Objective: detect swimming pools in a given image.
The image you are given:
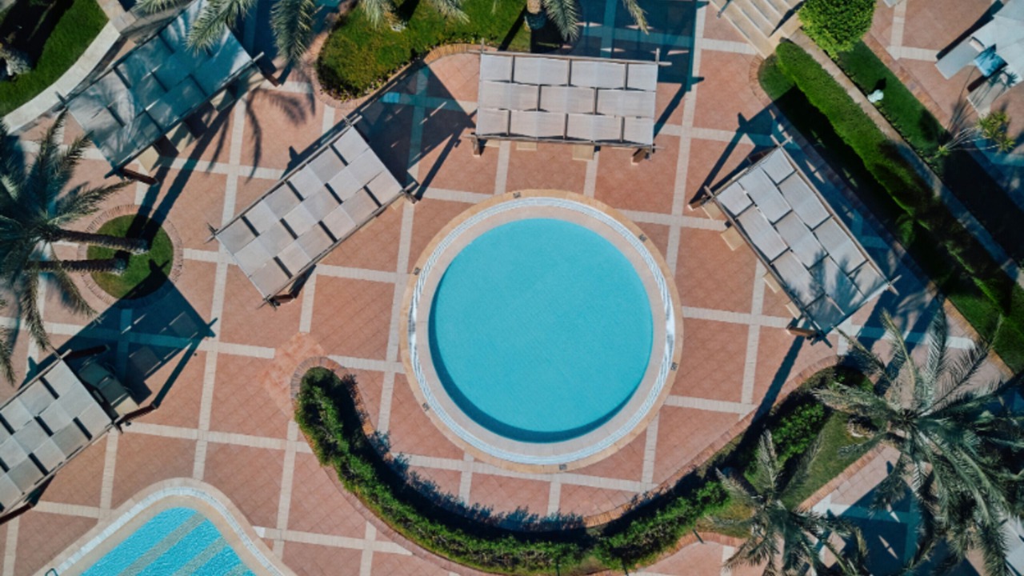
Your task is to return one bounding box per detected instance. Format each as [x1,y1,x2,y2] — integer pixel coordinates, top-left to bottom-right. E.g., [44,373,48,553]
[28,478,301,576]
[400,190,683,473]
